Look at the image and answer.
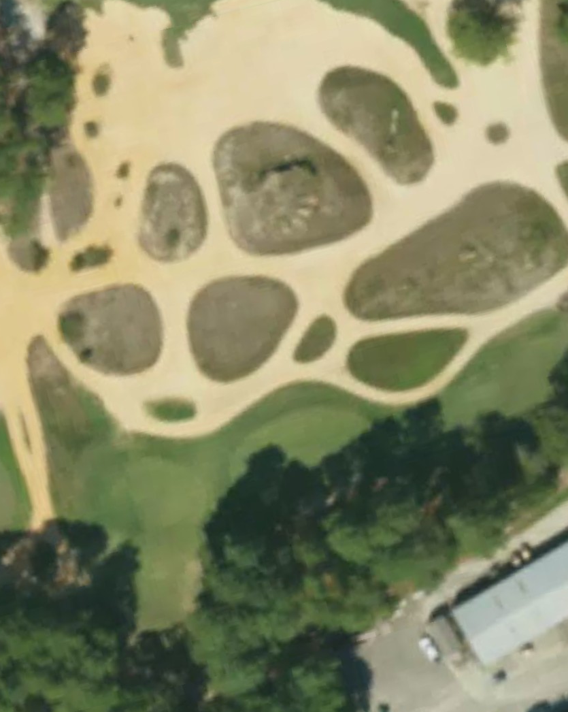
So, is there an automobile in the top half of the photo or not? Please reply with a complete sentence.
No, there's no automobile to be seen in the top half of the photo.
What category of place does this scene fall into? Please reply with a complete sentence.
This looks like a golf course.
